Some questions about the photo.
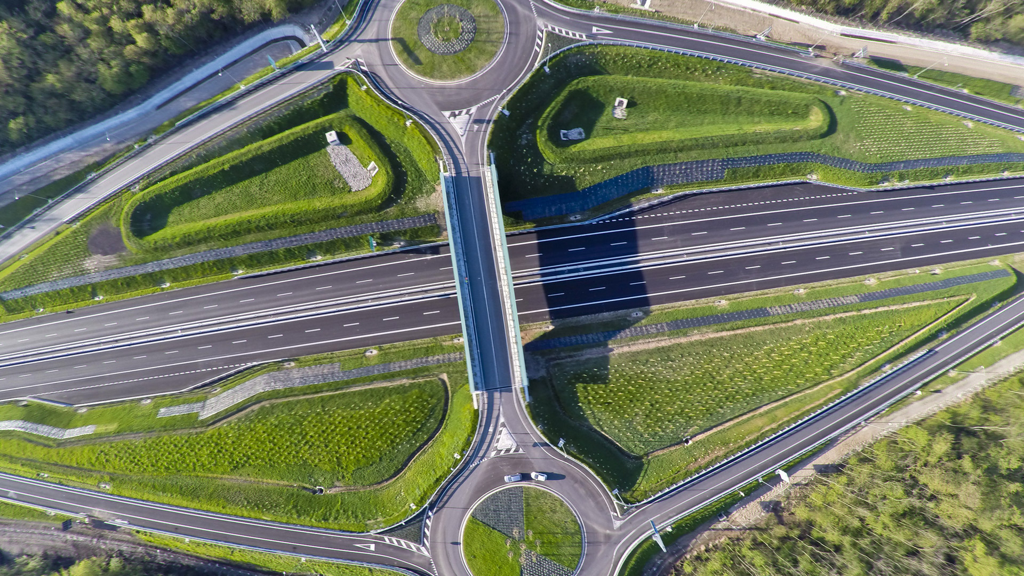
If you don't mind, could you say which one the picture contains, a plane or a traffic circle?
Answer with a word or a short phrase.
traffic circle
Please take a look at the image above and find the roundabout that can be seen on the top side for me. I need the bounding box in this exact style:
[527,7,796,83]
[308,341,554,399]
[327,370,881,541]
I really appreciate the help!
[323,0,589,176]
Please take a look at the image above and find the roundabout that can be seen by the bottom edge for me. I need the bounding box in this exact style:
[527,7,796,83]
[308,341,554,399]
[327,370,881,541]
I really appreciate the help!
[372,384,635,576]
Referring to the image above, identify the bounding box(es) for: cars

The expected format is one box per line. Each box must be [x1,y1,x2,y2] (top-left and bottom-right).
[504,474,522,485]
[531,472,547,483]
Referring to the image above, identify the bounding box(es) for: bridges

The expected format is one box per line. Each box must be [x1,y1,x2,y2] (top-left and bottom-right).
[439,153,529,409]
